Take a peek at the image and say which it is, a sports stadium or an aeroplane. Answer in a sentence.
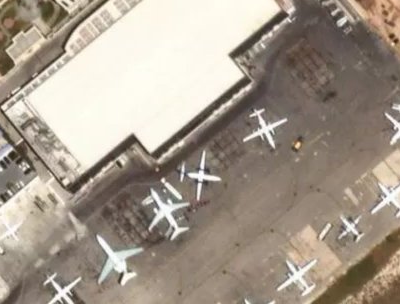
The one in the frame is an aeroplane.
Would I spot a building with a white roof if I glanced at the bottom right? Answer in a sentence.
No, no building with a white roof is visible at the bottom right.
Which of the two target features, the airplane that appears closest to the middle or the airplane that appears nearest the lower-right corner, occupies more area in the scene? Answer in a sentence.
Compared with the airplane that appears nearest the lower-right corner, the airplane that appears closest to the middle is the larger one.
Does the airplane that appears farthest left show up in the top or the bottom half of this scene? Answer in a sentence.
Seen from above, the airplane that appears farthest left lies in the bottom half of the view.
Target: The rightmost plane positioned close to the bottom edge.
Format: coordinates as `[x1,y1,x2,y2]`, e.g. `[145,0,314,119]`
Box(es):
[276,259,318,296]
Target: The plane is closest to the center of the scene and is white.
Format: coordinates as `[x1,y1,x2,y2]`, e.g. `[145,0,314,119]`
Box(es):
[179,152,222,201]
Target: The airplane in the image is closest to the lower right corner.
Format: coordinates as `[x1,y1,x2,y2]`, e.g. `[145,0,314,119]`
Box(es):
[337,216,364,242]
